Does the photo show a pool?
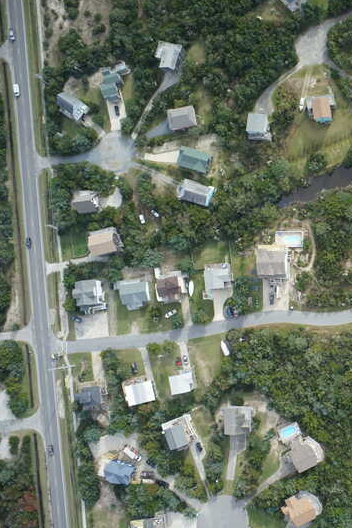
Yes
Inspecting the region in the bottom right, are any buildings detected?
Yes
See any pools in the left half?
No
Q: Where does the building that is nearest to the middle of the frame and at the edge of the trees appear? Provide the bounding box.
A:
[154,268,186,302]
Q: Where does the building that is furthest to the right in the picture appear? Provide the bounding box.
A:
[307,95,337,125]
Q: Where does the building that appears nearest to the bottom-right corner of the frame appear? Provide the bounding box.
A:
[279,490,322,526]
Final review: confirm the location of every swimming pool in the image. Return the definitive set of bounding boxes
[275,230,302,248]
[277,423,303,445]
